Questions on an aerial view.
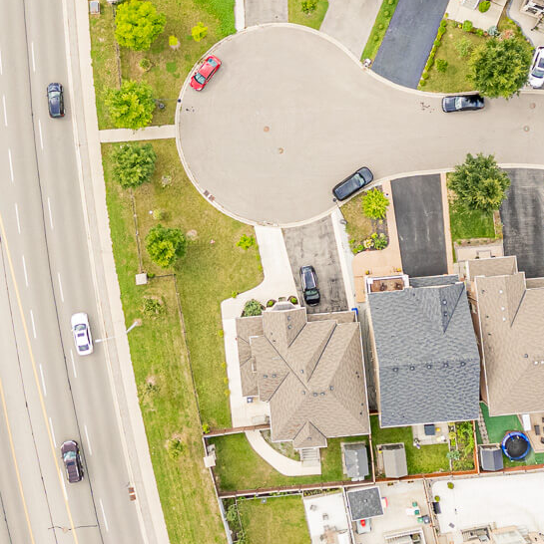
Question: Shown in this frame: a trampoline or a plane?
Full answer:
Of the two, only a trampoline appears.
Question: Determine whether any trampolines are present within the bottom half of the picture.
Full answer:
Yes, a trampoline appears within the bottom half of the picture.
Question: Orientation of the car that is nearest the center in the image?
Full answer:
The car that is nearest the center is laid out up and down.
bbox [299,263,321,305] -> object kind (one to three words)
car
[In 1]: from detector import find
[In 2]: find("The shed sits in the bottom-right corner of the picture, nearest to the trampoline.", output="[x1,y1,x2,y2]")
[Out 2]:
[478,445,503,471]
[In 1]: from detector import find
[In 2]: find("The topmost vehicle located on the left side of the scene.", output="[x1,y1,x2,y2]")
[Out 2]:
[190,54,221,91]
